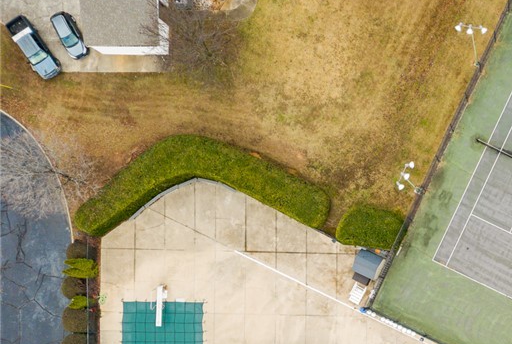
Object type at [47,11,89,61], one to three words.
car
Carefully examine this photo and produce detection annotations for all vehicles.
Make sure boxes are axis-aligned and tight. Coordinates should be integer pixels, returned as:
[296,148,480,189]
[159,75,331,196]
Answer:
[47,11,89,61]
[4,14,62,81]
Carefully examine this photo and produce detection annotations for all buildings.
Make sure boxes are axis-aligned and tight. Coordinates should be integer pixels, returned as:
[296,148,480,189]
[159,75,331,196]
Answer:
[347,249,383,281]
[80,0,172,56]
